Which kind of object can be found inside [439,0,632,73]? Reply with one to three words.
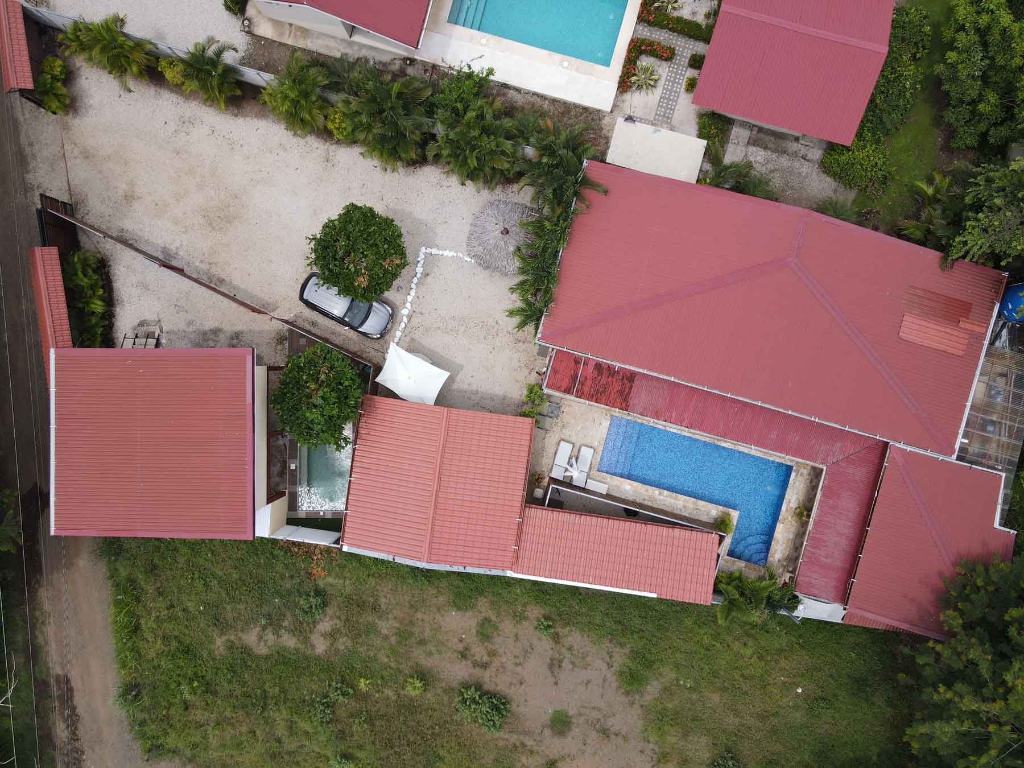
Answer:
swimming pool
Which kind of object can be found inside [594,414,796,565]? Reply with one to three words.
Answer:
swimming pool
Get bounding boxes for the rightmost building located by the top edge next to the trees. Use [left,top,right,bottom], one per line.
[692,0,896,149]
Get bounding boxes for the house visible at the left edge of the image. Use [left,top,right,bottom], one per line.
[45,347,271,540]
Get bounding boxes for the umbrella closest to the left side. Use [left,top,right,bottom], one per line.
[376,342,449,405]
